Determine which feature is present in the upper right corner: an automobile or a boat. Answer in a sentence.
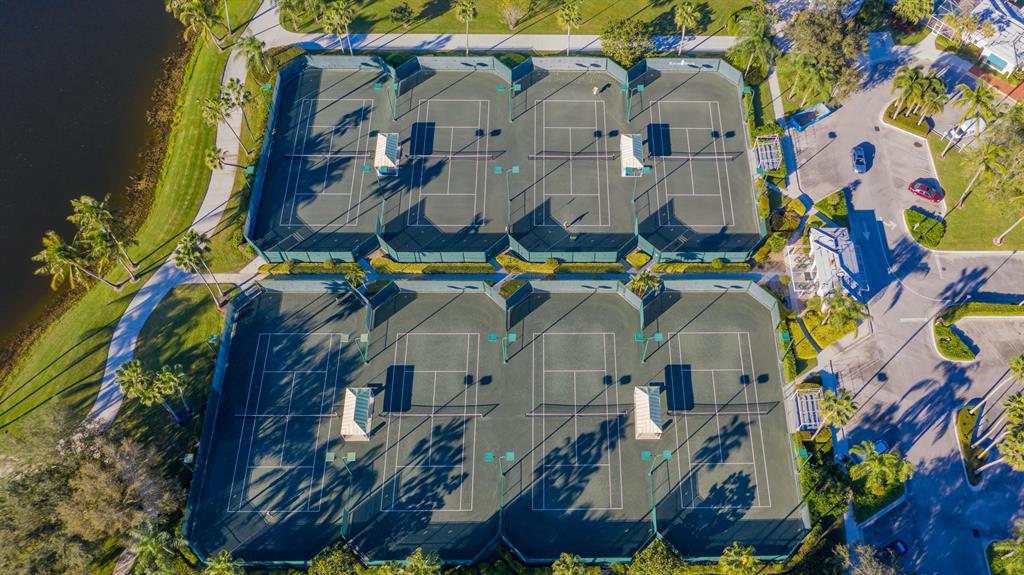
You can see an automobile in the upper right corner.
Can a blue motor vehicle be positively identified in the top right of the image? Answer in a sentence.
Yes, in the top right of the image there is a blue motor vehicle.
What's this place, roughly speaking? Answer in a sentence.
The picture captures a sports ground.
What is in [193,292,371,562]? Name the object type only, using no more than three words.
tennis court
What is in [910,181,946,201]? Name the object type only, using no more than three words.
car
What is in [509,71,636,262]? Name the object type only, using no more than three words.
tennis court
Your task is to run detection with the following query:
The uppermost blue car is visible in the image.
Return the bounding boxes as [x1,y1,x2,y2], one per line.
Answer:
[852,143,868,171]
